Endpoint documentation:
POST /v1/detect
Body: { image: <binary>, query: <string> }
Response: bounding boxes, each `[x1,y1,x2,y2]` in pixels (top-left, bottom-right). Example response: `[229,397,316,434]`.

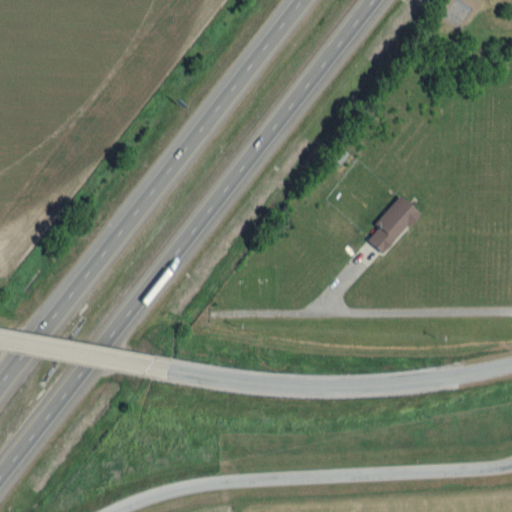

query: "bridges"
[0,328,173,382]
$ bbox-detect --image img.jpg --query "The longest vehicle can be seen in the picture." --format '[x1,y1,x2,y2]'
[141,259,182,308]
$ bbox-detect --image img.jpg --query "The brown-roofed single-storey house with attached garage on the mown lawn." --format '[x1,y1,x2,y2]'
[367,195,422,254]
